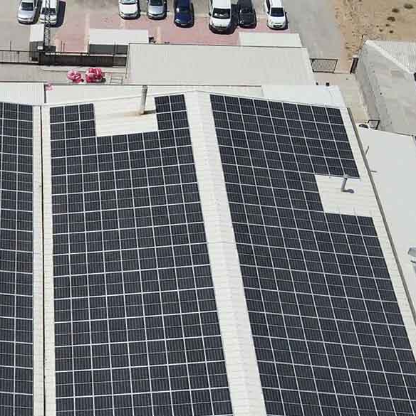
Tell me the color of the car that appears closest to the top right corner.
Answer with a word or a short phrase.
white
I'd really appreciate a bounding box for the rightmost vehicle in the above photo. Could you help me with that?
[260,0,288,30]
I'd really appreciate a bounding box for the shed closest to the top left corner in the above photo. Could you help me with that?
[28,27,52,61]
